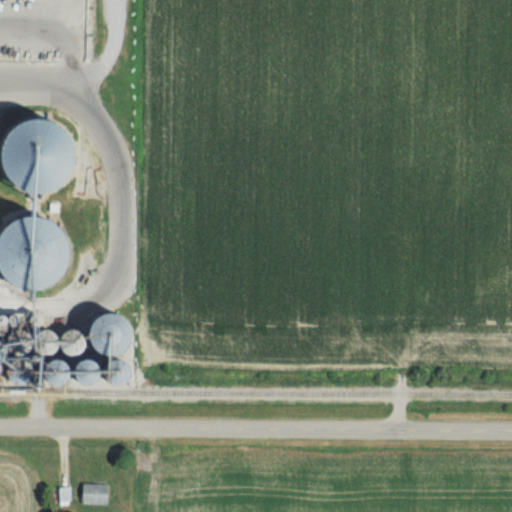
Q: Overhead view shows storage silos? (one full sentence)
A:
Yes, I can see a storage silo in this picture.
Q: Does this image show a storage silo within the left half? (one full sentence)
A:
Yes, looking within the left half, one can make out a storage silo.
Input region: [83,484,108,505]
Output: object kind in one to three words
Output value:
barn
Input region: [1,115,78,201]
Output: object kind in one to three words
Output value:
silo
